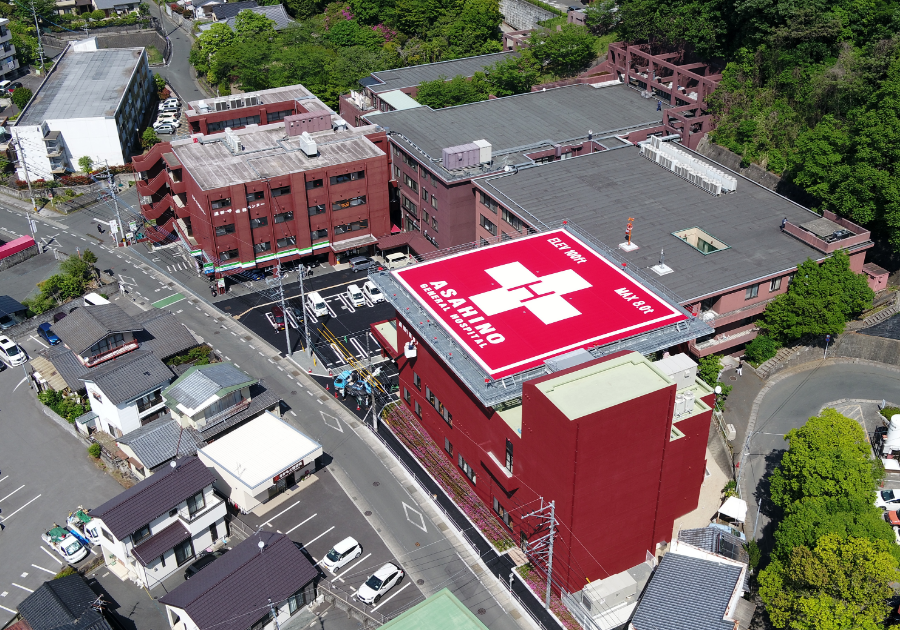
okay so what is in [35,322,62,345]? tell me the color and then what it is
blue car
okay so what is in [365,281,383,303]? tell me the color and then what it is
white car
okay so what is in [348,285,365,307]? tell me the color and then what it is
white car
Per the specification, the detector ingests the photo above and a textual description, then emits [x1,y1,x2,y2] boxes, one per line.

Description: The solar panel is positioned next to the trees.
[717,532,739,554]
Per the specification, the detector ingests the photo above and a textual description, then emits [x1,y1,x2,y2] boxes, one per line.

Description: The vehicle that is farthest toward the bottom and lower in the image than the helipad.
[359,562,404,603]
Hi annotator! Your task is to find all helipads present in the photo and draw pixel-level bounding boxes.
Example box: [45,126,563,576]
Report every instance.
[364,213,722,424]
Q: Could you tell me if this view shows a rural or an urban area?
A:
urban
